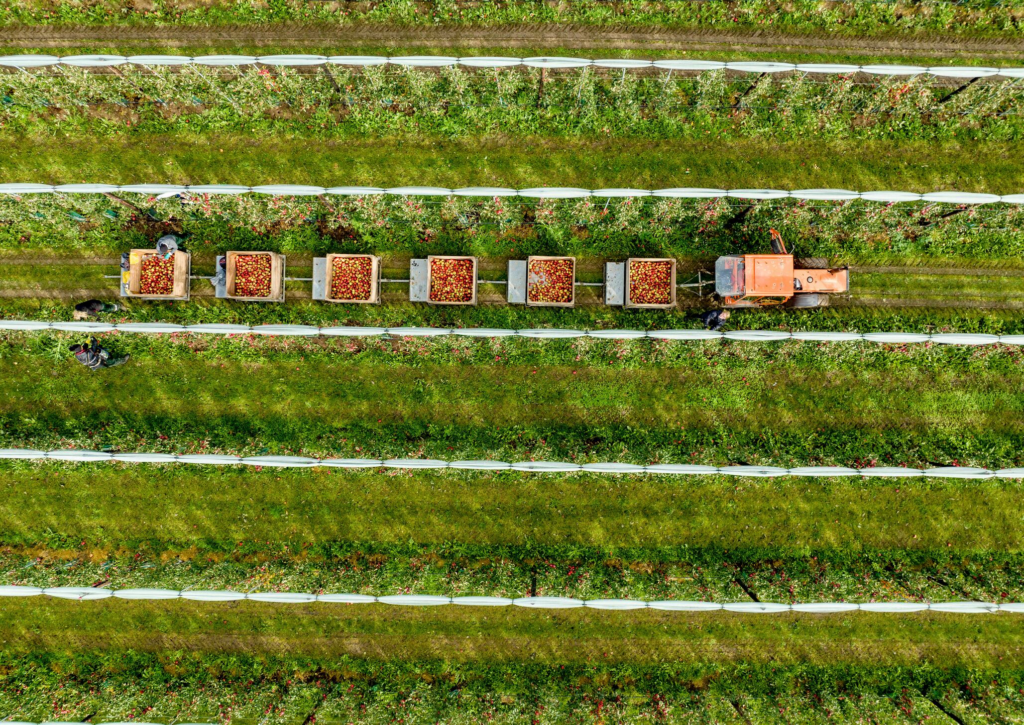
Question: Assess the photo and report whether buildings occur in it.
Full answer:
No, no building can be seen from above.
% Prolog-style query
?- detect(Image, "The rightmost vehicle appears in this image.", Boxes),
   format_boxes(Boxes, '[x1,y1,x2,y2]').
[682,229,852,308]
